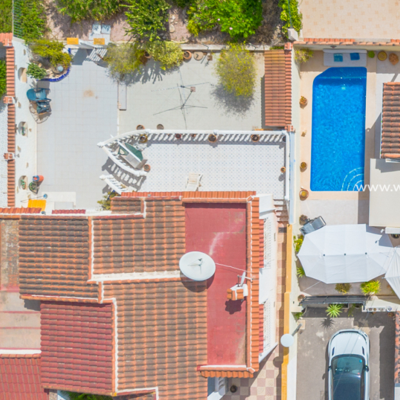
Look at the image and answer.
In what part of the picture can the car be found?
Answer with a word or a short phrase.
bottom right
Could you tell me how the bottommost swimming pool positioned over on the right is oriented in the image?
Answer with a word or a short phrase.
up and down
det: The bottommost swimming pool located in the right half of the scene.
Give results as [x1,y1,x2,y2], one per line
[311,67,366,191]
